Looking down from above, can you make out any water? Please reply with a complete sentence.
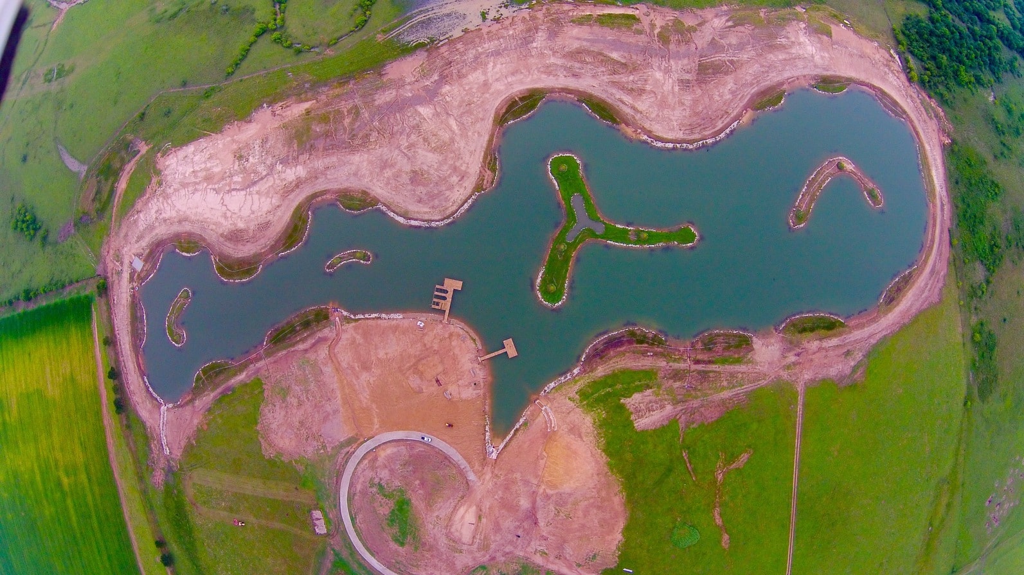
Yes, there is water in the image.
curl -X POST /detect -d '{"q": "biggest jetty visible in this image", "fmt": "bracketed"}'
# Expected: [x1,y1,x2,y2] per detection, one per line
[432,278,462,324]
